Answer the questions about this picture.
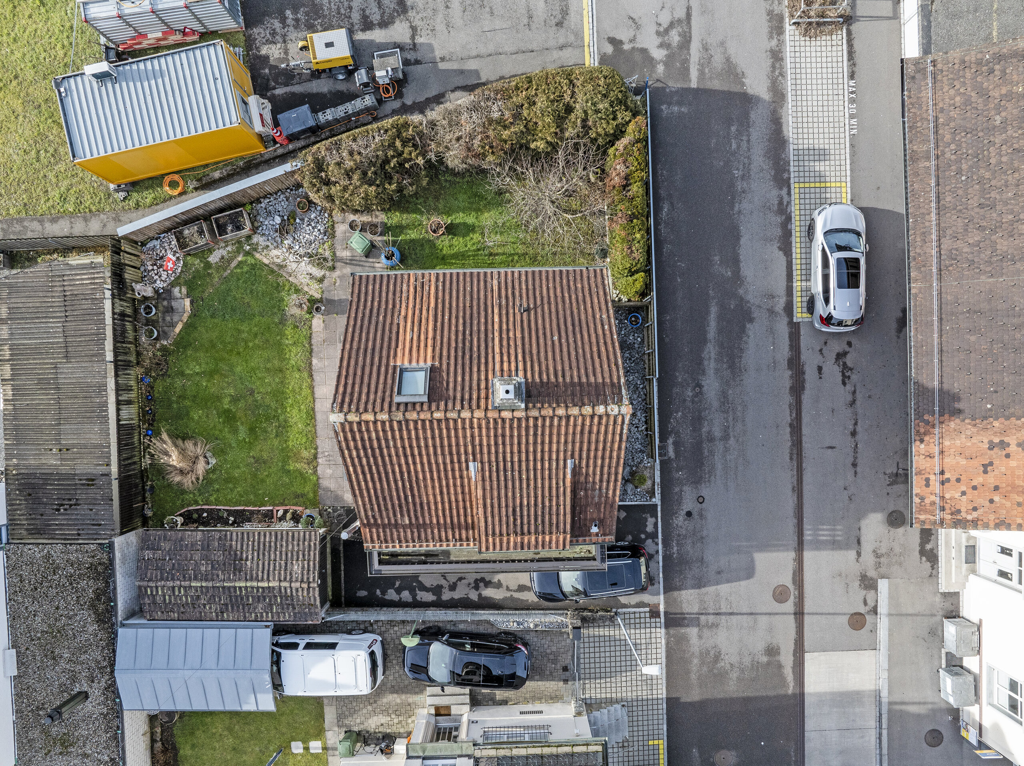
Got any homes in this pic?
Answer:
Yes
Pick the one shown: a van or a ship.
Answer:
van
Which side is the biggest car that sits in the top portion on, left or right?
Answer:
right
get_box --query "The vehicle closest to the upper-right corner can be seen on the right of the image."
[801,204,871,332]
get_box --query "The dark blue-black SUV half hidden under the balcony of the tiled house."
[527,536,655,610]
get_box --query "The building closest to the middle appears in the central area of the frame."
[327,263,634,577]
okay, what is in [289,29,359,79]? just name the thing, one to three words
trailer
